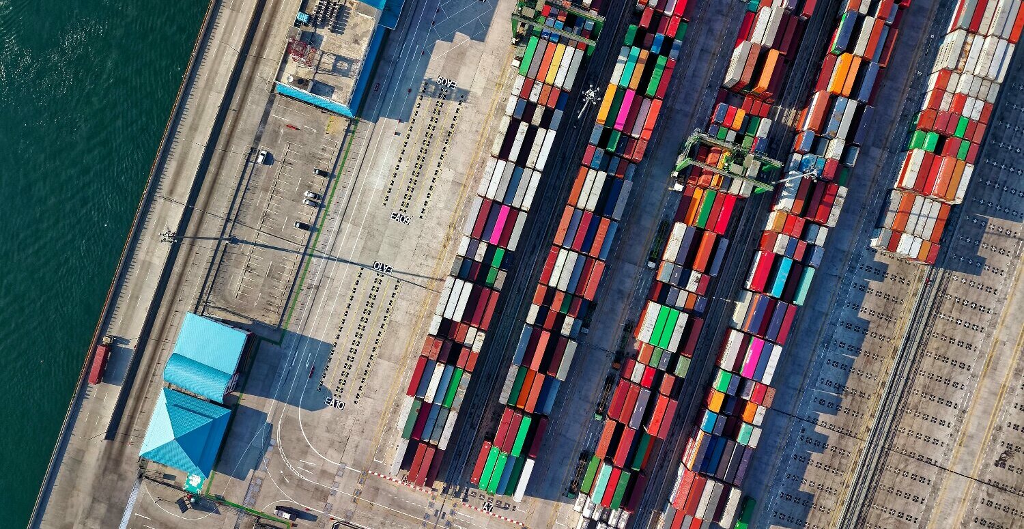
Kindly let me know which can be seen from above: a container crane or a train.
container crane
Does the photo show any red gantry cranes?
No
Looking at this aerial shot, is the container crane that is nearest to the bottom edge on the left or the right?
right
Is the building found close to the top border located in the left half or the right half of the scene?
left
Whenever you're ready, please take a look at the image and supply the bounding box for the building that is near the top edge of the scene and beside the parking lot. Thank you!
[275,0,405,120]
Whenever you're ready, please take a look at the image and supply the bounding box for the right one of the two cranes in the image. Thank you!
[663,130,787,203]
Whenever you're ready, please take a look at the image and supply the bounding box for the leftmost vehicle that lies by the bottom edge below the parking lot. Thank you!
[275,504,299,521]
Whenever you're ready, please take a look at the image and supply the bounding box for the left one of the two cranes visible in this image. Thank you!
[504,0,609,69]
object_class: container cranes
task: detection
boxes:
[504,0,609,69]
[663,130,787,203]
